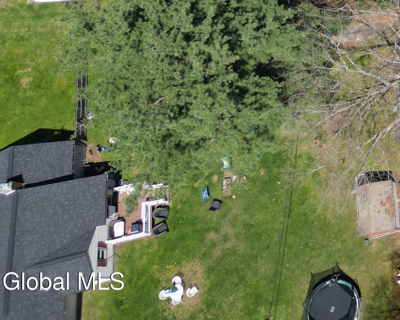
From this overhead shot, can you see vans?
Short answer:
No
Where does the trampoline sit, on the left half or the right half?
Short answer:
right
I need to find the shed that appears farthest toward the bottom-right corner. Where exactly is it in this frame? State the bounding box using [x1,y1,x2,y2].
[356,178,400,240]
